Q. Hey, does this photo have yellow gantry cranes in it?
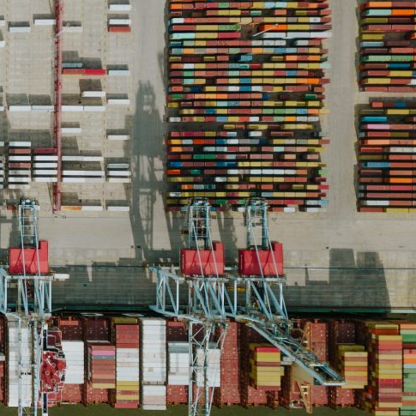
No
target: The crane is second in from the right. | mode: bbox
[142,199,227,416]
